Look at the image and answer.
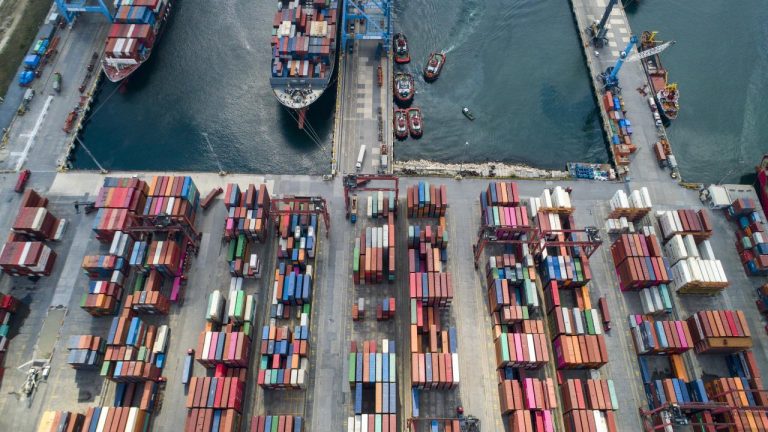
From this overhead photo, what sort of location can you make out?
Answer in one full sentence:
The picture captures a port.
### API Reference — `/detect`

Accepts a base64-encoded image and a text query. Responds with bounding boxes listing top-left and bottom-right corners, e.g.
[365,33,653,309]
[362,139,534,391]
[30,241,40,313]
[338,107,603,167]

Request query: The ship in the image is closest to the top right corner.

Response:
[645,27,688,122]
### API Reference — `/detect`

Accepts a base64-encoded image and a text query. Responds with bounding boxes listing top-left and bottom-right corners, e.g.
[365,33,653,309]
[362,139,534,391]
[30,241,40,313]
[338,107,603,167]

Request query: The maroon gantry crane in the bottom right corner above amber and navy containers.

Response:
[703,392,768,427]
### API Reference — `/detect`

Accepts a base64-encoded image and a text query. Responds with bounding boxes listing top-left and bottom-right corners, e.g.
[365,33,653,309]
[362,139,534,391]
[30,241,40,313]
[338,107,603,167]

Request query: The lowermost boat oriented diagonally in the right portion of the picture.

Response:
[459,107,474,123]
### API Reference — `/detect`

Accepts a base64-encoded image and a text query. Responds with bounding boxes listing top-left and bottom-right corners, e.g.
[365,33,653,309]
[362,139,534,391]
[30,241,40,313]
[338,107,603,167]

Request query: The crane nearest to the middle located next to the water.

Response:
[344,176,400,215]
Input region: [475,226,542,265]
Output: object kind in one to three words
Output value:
container crane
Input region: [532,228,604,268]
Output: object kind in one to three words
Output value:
container crane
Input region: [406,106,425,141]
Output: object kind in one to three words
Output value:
boat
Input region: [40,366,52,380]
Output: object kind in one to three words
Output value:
vehicle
